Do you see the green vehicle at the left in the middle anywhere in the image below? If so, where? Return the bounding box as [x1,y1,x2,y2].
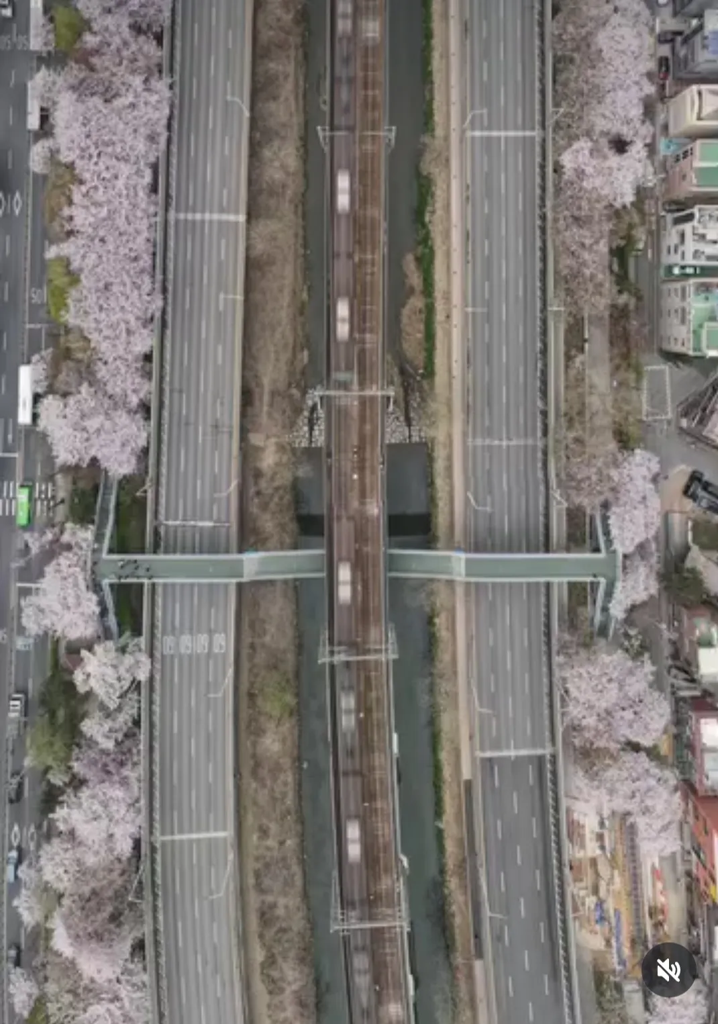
[18,481,37,524]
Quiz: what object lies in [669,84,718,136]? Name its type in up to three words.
house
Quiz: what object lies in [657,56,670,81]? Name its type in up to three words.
vehicle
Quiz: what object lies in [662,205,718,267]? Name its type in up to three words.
house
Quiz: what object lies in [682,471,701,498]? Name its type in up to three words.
car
